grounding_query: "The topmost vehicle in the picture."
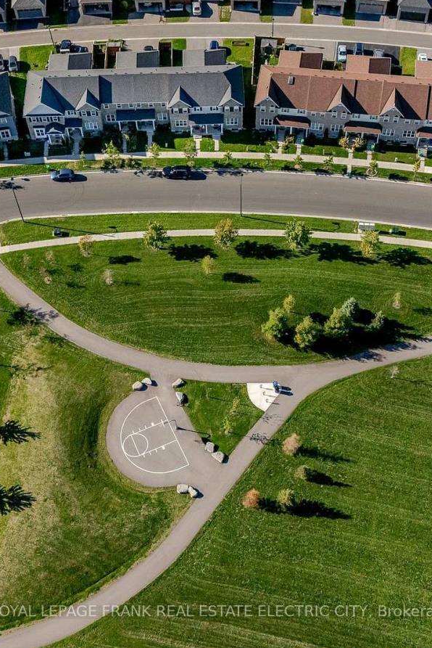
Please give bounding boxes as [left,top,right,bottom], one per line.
[190,0,203,18]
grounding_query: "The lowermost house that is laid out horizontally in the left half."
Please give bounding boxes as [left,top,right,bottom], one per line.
[22,48,245,156]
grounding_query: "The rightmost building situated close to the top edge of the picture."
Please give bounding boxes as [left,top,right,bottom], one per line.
[397,0,432,19]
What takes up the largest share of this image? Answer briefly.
grass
